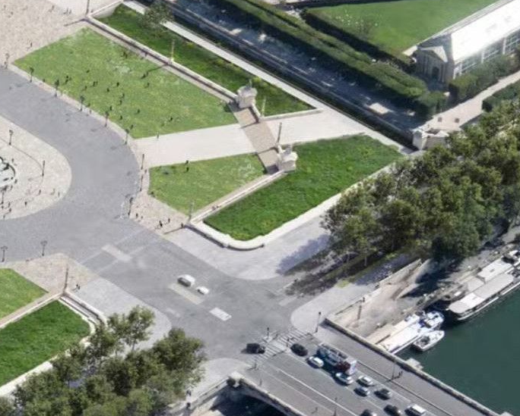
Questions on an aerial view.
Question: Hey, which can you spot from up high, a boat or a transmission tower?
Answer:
boat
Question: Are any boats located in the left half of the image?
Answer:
No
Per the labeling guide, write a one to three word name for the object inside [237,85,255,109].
building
